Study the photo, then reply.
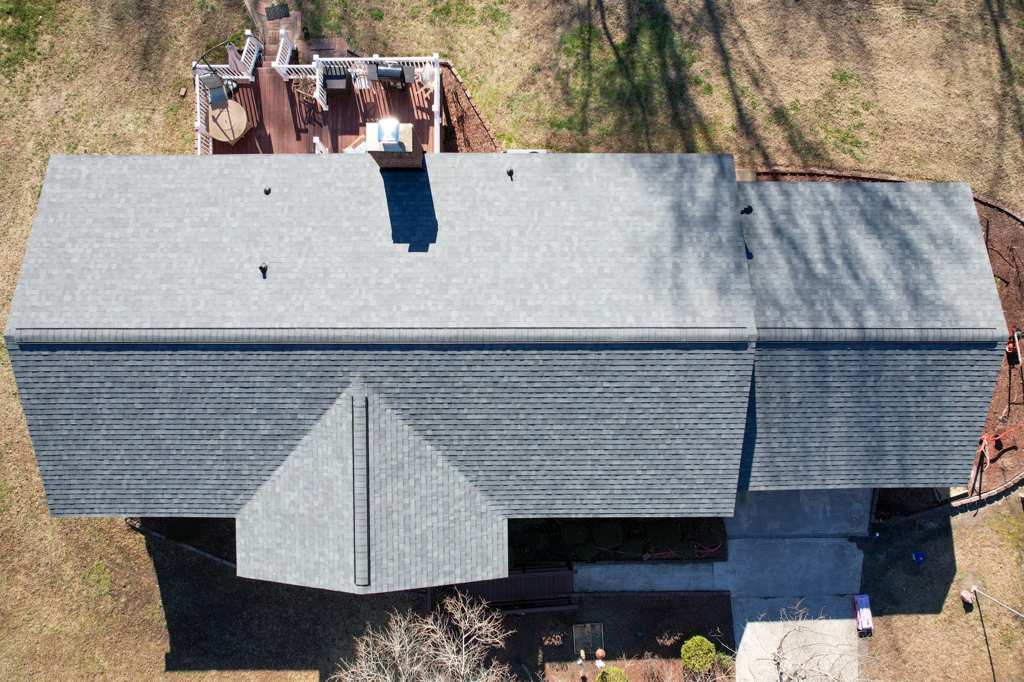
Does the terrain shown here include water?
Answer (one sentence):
No, no water is visible.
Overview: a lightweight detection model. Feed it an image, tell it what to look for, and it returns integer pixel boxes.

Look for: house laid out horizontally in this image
[4,121,1008,595]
